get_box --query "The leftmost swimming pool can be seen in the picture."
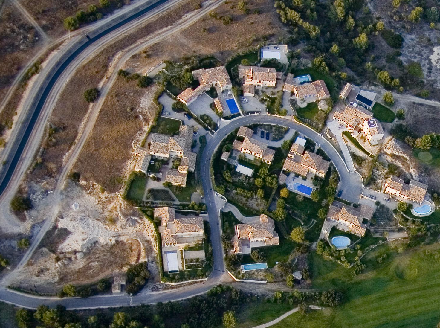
[163,250,181,274]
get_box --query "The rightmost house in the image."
[381,178,428,206]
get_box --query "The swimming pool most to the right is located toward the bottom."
[410,202,434,218]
